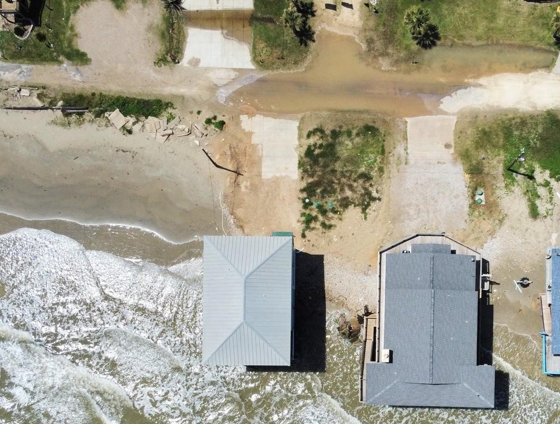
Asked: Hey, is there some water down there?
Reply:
Yes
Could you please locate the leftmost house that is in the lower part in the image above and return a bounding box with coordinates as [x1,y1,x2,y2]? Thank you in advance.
[202,231,297,367]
